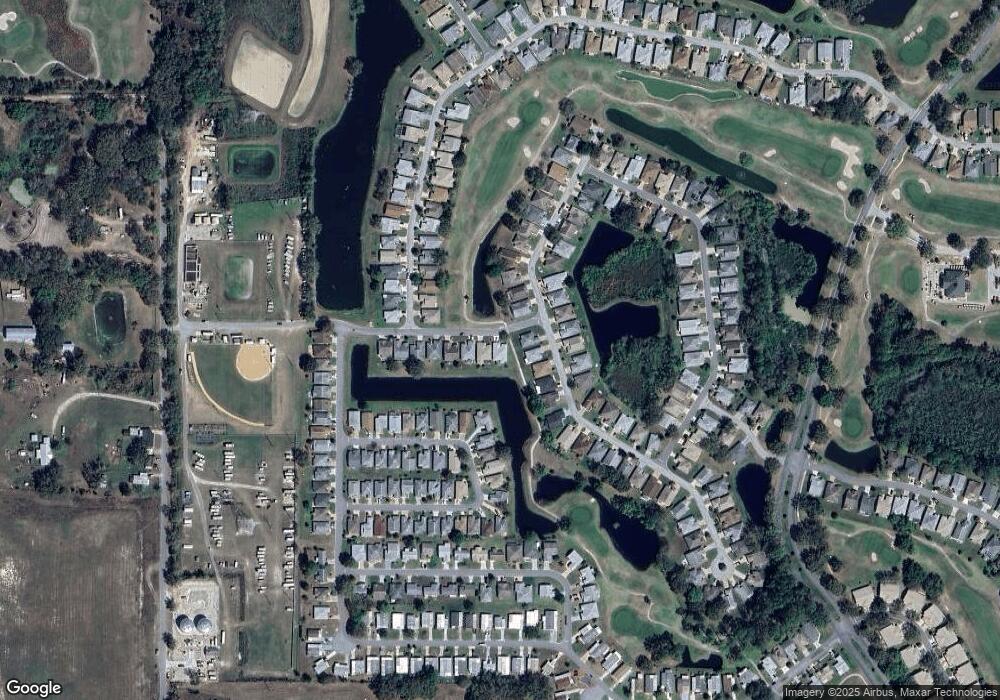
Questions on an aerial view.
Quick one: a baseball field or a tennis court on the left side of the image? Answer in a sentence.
It is a baseball field that can be seen on the left side of the image.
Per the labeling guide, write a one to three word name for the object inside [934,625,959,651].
building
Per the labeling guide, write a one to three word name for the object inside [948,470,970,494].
house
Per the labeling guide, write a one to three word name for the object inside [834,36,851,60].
house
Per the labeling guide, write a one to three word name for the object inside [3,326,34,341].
shed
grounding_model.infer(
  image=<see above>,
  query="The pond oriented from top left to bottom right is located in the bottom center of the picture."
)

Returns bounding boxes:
[534,475,663,569]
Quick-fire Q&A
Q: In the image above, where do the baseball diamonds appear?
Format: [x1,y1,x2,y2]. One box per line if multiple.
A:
[190,345,274,427]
